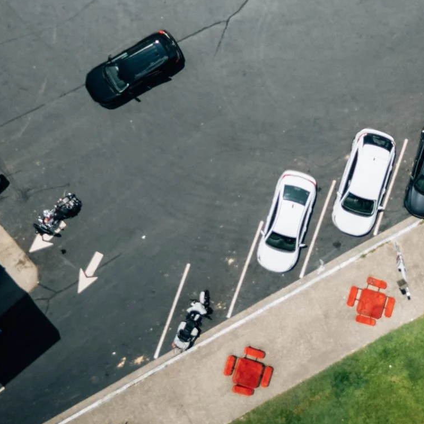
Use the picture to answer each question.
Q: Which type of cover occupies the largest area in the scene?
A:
paved ground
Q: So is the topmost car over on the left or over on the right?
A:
left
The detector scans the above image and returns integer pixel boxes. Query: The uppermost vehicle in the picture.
[85,29,185,100]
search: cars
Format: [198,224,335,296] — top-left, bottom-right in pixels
[85,29,185,100]
[335,127,394,235]
[405,121,424,216]
[257,167,317,270]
